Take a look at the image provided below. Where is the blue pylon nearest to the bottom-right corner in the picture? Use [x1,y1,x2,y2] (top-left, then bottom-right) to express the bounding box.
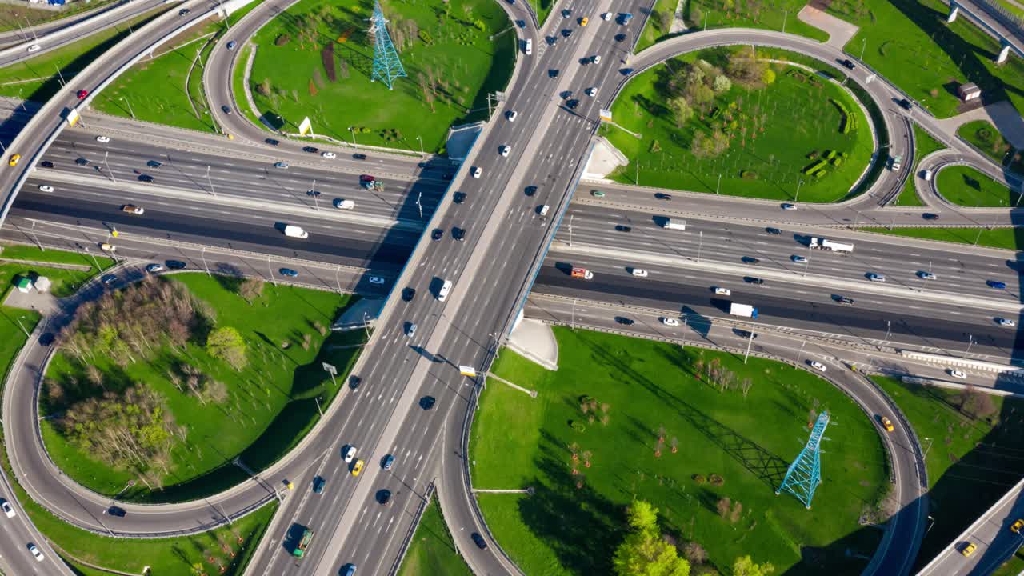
[775,408,831,509]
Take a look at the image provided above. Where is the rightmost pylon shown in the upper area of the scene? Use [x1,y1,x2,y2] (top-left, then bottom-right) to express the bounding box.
[370,0,408,89]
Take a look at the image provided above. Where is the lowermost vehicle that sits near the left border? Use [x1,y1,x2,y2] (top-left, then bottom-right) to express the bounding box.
[30,544,43,560]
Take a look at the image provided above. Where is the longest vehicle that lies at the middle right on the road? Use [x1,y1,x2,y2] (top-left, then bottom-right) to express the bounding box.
[806,234,857,252]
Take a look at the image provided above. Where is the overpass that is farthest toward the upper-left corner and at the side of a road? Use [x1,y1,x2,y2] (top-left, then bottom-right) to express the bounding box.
[0,0,251,227]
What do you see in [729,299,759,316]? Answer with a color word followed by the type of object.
white vehicle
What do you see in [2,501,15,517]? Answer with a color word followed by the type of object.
white vehicle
